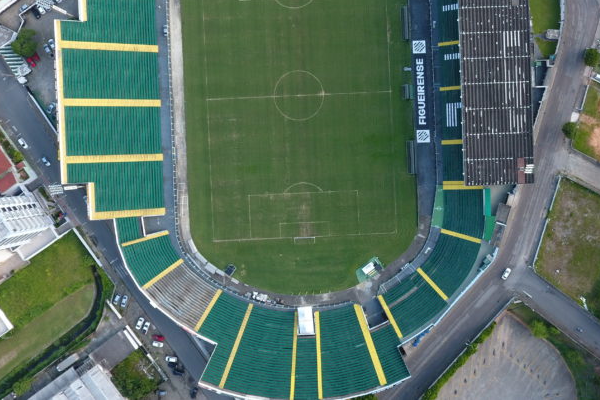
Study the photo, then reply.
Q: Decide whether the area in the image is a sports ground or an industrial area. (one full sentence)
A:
This looks like a sports ground.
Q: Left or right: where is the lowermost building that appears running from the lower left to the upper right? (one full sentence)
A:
The lowermost building that appears running from the lower left to the upper right is on the left side of the image.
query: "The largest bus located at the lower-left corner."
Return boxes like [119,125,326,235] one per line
[57,350,84,371]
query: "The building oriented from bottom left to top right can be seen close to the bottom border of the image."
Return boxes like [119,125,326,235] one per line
[31,364,82,400]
